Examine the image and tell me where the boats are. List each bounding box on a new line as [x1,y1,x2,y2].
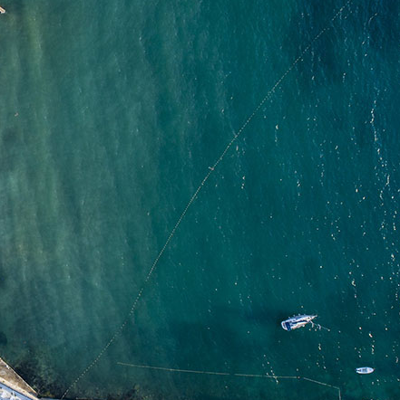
[279,314,323,330]
[354,367,374,374]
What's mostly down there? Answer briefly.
water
